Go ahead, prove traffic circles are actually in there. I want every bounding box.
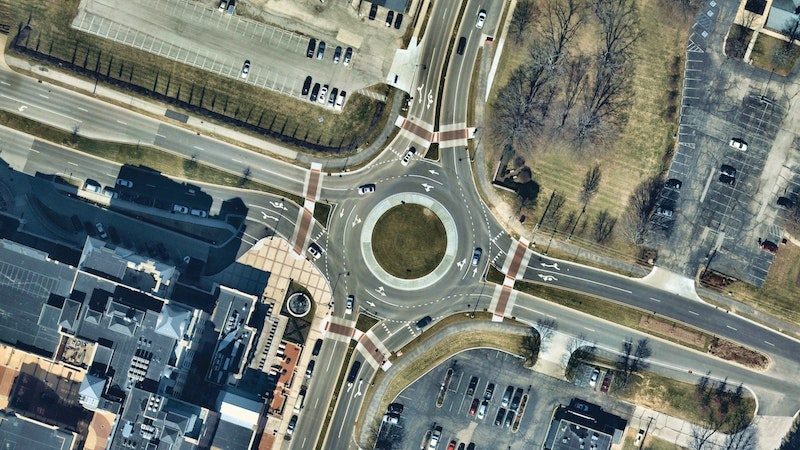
[287,114,531,373]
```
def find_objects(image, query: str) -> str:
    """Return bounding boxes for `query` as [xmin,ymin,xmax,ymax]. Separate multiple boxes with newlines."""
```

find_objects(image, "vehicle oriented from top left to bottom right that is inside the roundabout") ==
[307,243,323,259]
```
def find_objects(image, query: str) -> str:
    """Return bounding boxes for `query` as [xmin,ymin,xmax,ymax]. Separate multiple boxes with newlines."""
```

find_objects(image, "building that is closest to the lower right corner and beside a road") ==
[544,409,623,450]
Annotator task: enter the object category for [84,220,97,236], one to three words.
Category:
vehicle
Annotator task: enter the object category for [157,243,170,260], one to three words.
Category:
vehicle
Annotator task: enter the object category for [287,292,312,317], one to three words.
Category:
fountain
